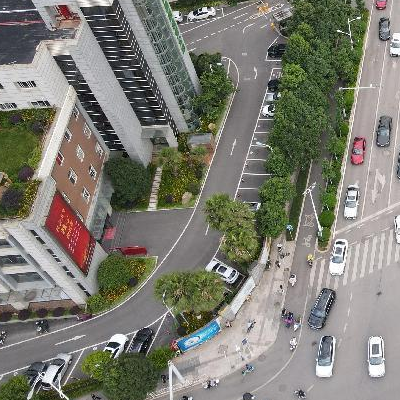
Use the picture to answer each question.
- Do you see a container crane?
No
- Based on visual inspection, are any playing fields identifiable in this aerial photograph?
No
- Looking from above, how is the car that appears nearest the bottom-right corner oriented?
from top to bottom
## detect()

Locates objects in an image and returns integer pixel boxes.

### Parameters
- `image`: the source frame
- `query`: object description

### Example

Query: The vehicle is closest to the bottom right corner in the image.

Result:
[366,336,386,379]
